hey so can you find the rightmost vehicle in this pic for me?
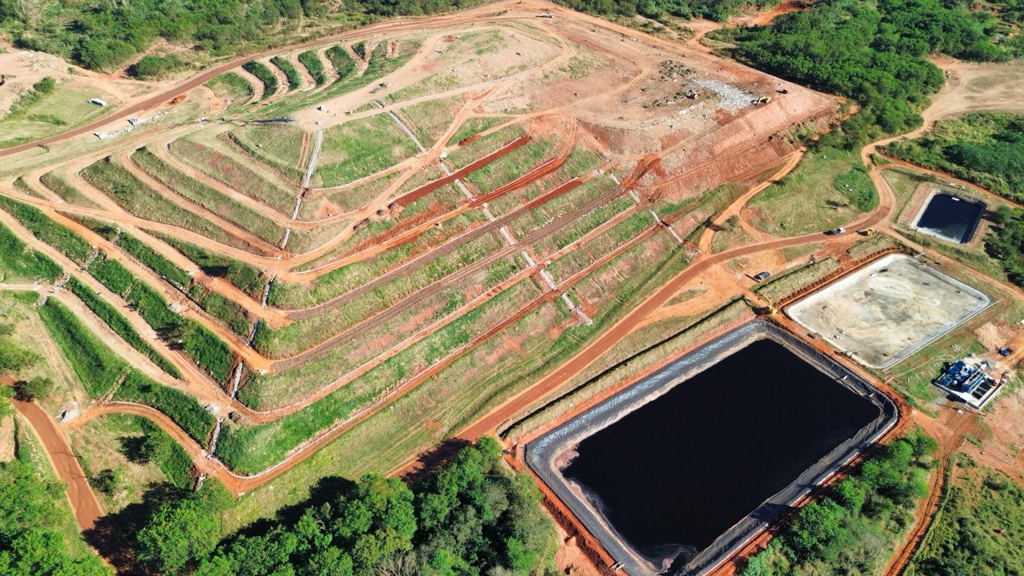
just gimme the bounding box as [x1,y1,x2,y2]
[997,343,1017,356]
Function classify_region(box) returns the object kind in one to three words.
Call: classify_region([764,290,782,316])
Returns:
work vehicle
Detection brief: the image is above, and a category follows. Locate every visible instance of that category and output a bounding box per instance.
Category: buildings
[932,360,1010,412]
